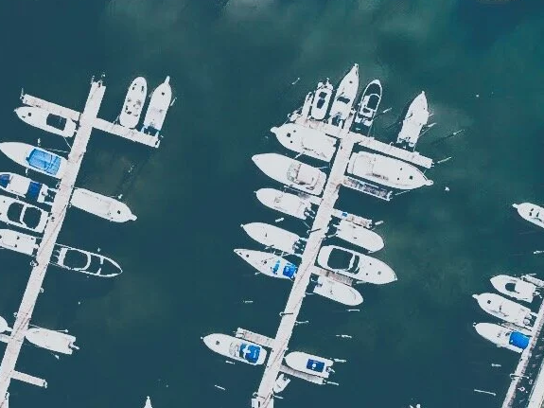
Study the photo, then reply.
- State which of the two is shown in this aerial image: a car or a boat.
boat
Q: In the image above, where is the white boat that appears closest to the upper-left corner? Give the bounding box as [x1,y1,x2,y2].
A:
[14,94,78,144]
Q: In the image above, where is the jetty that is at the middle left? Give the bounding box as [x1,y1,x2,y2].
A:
[0,81,164,408]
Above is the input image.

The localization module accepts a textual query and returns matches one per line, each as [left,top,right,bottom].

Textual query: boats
[514,203,544,231]
[282,352,339,383]
[120,76,149,129]
[69,187,137,222]
[0,228,40,259]
[474,294,539,337]
[488,276,543,309]
[472,321,532,357]
[342,151,440,190]
[0,196,51,237]
[201,334,269,374]
[324,64,359,137]
[0,142,69,184]
[275,371,290,394]
[239,222,308,258]
[254,188,319,226]
[397,88,428,149]
[43,240,123,277]
[346,79,388,138]
[14,94,78,144]
[0,171,56,208]
[24,328,81,357]
[305,274,364,308]
[252,153,329,199]
[308,80,333,126]
[233,248,300,282]
[270,124,340,167]
[314,244,397,285]
[142,75,173,138]
[326,216,384,251]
